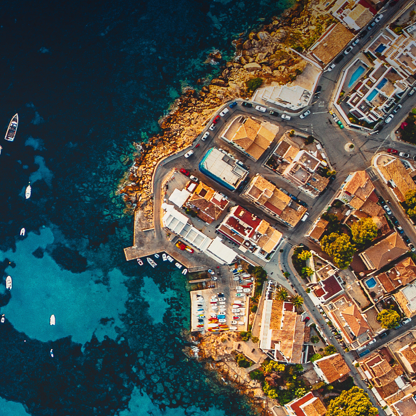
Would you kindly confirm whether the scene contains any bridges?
No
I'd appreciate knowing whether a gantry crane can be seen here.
No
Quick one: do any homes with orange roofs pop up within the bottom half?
Yes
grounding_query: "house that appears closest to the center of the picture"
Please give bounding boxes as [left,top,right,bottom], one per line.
[180,181,230,225]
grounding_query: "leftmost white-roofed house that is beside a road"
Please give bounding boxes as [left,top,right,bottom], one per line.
[160,209,213,253]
